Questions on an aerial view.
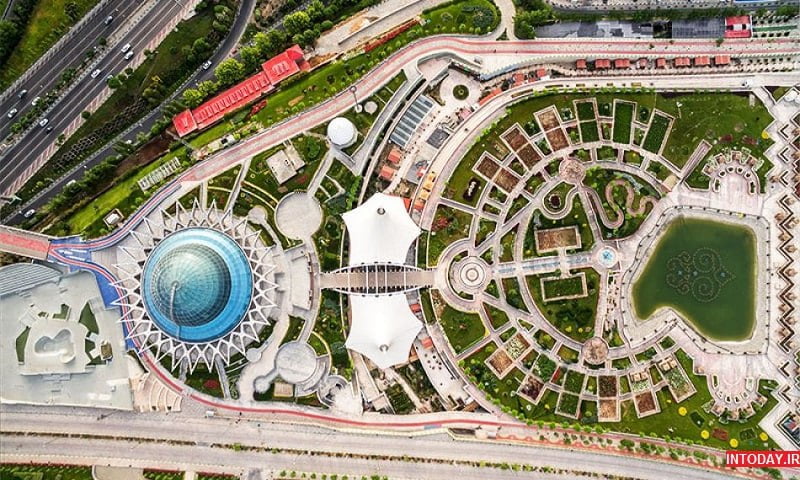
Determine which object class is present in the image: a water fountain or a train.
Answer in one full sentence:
Looking from above, you can make out a water fountain.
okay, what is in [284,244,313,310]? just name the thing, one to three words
house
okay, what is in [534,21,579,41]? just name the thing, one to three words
building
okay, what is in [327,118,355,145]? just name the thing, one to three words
building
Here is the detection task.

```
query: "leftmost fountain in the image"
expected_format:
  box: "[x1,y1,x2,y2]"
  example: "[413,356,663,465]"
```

[591,242,622,272]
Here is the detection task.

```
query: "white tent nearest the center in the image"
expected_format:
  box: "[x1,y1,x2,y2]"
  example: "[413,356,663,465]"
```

[339,190,425,269]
